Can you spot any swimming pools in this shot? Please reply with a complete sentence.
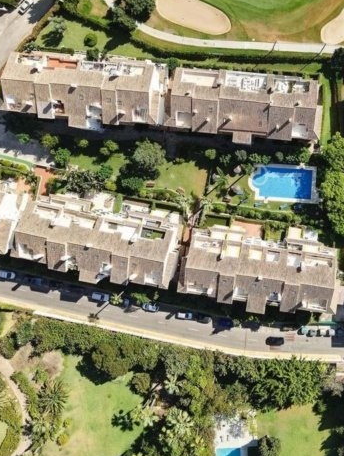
Yes, looking at the shot, I can spot a swimming pool.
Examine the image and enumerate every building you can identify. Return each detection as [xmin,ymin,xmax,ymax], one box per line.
[179,224,344,315]
[10,195,185,289]
[0,52,170,134]
[162,66,322,153]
